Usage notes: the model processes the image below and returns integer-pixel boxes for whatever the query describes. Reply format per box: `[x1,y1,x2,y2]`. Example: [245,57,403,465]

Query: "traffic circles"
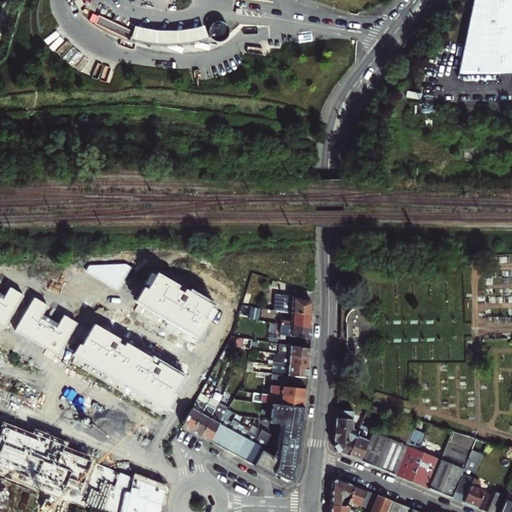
[168,474,228,512]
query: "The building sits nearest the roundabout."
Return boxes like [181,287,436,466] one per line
[129,472,168,512]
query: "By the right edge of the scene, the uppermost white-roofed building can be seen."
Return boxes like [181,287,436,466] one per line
[456,0,512,75]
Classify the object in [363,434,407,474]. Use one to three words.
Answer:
building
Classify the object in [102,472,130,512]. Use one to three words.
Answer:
building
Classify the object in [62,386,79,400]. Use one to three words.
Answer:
vehicle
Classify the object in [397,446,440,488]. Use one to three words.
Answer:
house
